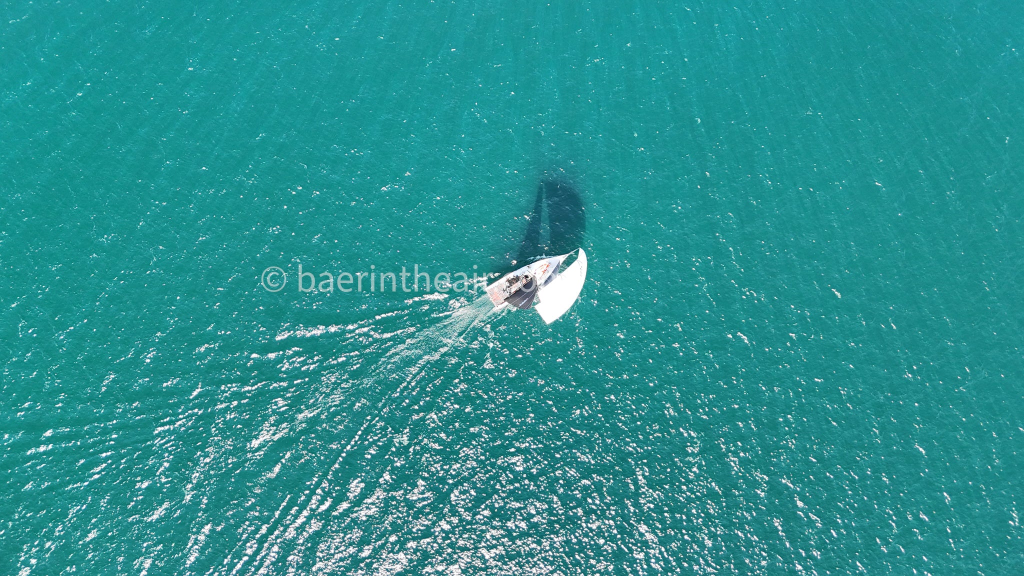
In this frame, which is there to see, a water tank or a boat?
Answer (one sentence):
The image shows a boat.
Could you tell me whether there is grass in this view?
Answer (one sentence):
No, the picture contains no grass.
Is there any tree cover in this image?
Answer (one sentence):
No, the picture contains no tree cover.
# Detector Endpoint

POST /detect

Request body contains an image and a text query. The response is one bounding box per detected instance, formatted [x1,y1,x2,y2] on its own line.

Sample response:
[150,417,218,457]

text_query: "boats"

[485,248,586,324]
